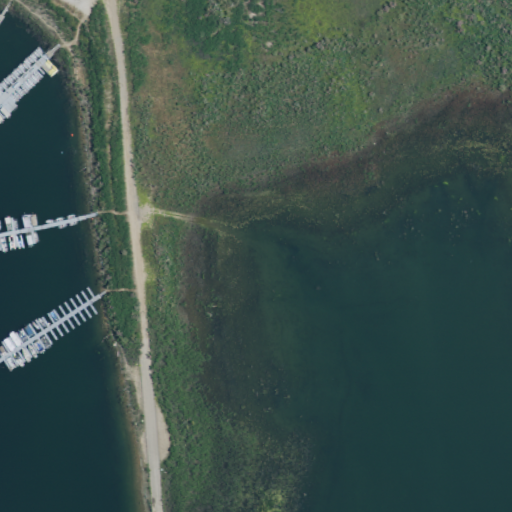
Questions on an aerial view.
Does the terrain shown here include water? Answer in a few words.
Yes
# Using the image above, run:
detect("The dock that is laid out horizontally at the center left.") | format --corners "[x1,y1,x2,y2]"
[0,212,97,247]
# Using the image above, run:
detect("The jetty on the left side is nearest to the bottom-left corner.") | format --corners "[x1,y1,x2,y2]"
[0,288,108,364]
